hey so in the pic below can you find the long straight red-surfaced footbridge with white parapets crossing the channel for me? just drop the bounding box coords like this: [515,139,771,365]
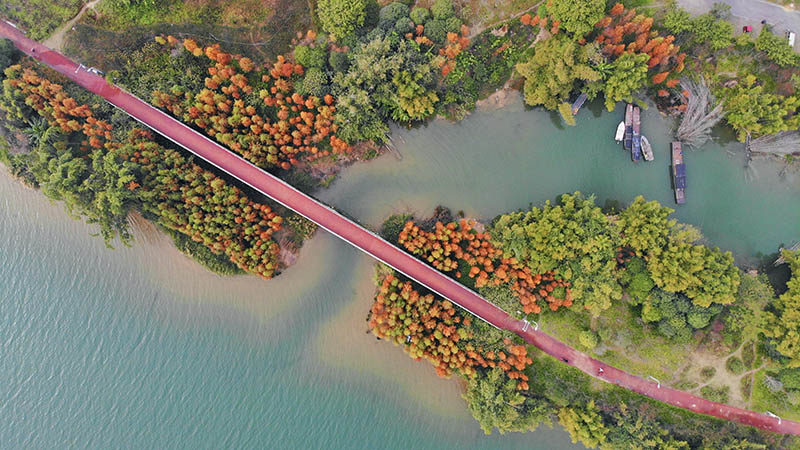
[102,82,506,328]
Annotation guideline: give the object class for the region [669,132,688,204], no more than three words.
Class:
vessel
